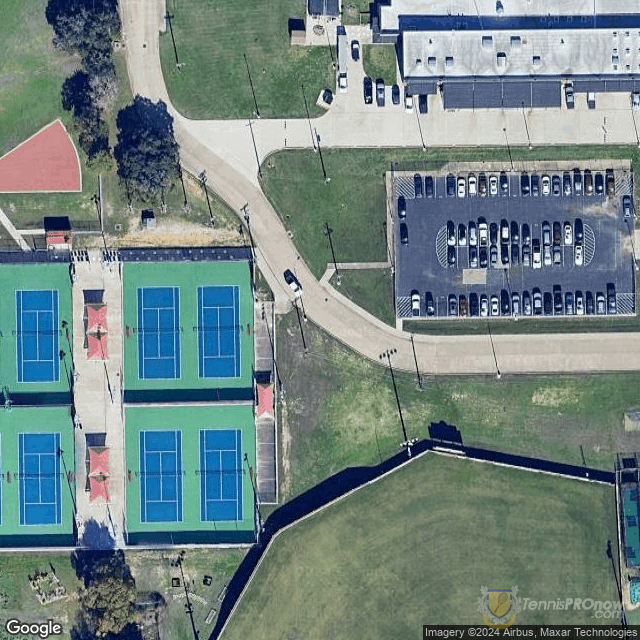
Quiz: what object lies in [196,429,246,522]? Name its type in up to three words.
tennis court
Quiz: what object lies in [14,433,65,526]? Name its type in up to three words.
tennis court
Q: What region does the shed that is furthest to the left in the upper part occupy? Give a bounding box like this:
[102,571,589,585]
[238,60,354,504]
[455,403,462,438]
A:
[48,229,72,246]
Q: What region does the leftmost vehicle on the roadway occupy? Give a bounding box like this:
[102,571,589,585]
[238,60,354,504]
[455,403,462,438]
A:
[285,272,302,295]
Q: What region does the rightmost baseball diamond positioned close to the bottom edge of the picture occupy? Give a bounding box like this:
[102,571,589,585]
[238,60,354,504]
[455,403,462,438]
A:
[218,451,623,640]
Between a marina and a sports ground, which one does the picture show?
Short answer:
sports ground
